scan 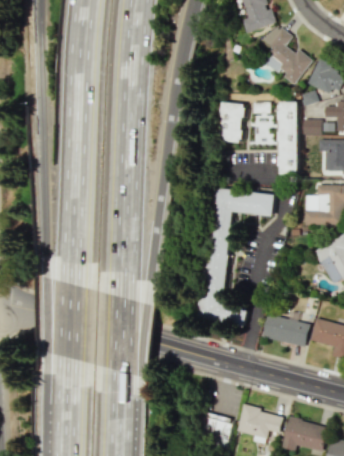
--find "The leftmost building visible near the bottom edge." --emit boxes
[208,417,232,445]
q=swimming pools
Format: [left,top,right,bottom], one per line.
[314,274,344,294]
[248,60,277,83]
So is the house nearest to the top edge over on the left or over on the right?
right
